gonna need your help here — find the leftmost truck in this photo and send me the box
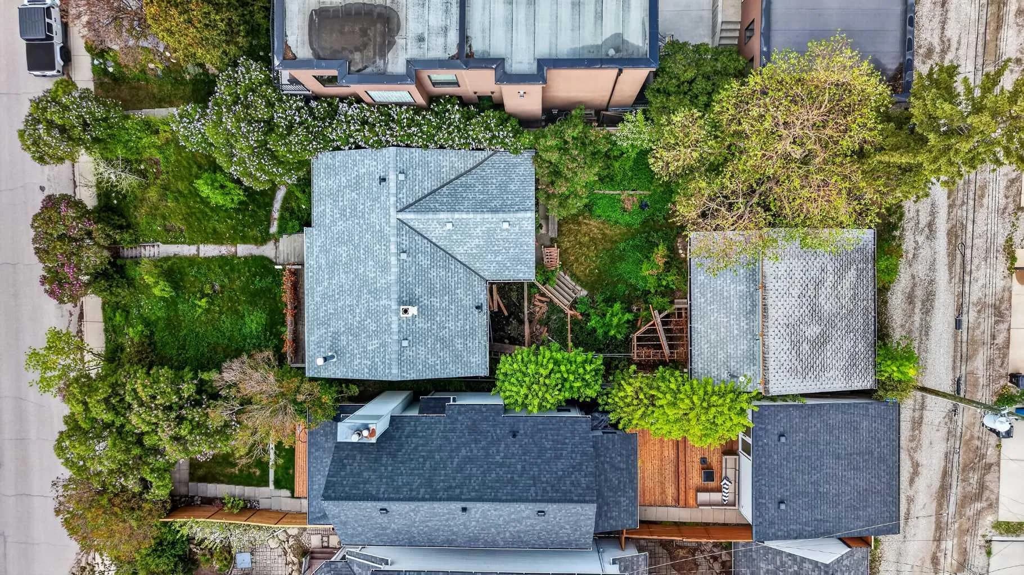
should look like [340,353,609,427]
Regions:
[16,0,73,81]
